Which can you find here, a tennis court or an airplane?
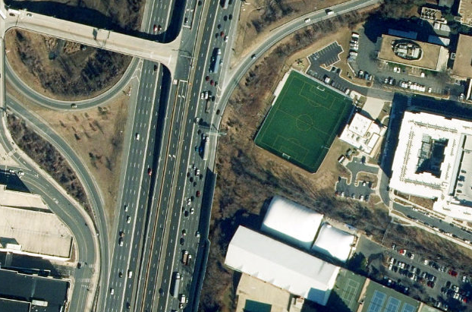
tennis court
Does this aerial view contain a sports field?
Yes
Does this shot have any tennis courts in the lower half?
Yes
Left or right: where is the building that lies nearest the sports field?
right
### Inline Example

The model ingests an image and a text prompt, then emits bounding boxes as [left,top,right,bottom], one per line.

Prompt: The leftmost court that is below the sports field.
[331,272,366,299]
